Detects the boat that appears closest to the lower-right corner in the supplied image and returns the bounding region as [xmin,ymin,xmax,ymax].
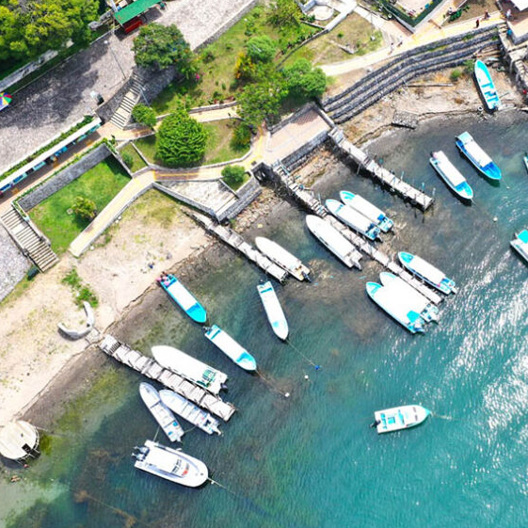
[369,404,431,438]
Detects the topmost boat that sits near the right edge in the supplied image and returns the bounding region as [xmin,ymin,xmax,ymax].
[474,60,502,119]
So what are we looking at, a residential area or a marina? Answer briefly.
marina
